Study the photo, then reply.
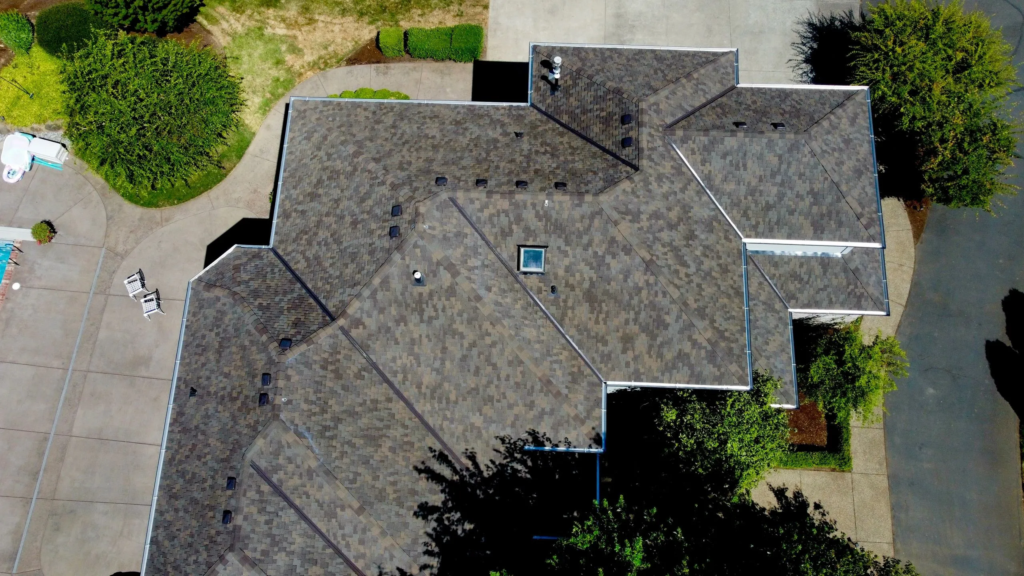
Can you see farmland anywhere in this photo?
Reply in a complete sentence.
No, farmland can't be seen anywhere here.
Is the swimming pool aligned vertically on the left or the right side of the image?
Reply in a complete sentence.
It is on the left.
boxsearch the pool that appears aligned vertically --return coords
[0,239,23,307]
